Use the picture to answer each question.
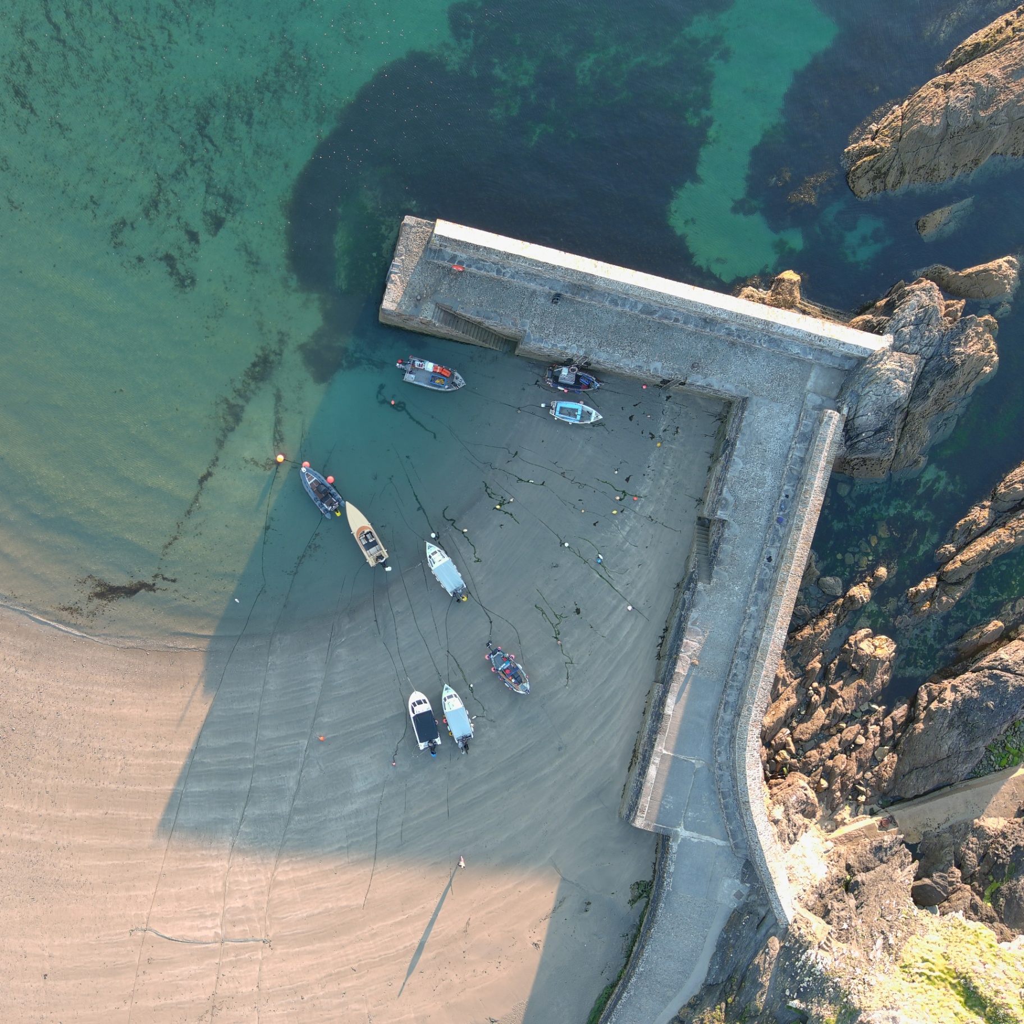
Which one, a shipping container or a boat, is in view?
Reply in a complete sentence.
It is a boat that can be seen here.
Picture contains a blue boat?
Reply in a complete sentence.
Yes, there's a blue boat here.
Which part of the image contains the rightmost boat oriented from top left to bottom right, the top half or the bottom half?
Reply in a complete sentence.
You can find the rightmost boat oriented from top left to bottom right in the bottom half.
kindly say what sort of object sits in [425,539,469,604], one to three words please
boat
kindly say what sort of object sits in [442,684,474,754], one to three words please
boat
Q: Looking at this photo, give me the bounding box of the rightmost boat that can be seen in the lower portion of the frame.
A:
[481,641,531,694]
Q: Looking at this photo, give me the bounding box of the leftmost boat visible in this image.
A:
[301,464,348,523]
